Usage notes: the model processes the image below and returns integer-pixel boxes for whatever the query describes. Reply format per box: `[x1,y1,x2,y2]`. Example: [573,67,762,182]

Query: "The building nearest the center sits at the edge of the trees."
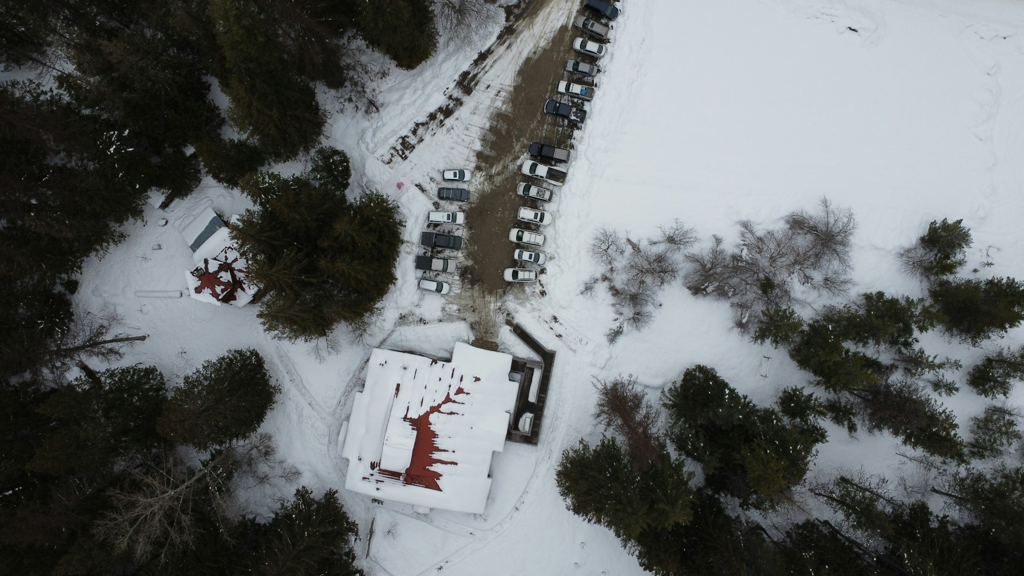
[338,342,519,513]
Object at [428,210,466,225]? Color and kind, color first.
white vehicle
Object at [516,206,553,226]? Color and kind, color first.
white car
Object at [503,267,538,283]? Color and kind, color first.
white car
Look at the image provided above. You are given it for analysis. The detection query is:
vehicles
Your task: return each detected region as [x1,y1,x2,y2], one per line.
[513,248,547,264]
[543,100,587,124]
[442,168,473,183]
[421,232,463,250]
[582,0,618,22]
[428,210,466,225]
[415,256,459,274]
[516,206,553,226]
[508,228,547,247]
[527,142,571,164]
[418,278,452,295]
[437,187,470,203]
[573,16,609,41]
[556,80,595,101]
[503,267,538,283]
[521,161,568,186]
[516,183,553,203]
[571,38,607,60]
